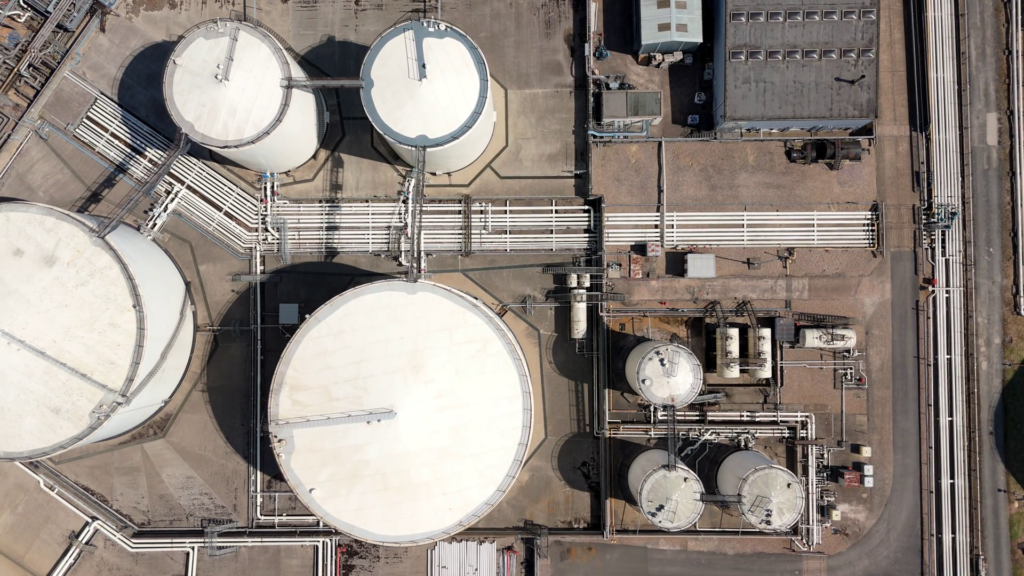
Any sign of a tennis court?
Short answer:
No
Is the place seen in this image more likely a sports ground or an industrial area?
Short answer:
industrial area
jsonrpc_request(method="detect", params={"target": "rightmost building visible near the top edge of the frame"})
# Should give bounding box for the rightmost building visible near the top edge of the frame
[712,0,879,131]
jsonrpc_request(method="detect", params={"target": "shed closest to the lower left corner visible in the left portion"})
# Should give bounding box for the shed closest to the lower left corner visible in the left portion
[272,304,297,325]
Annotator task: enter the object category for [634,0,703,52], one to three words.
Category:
shed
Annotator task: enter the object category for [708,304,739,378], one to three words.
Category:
storage tank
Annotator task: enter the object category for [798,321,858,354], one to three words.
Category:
storage tank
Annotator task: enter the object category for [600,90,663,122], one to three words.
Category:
building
